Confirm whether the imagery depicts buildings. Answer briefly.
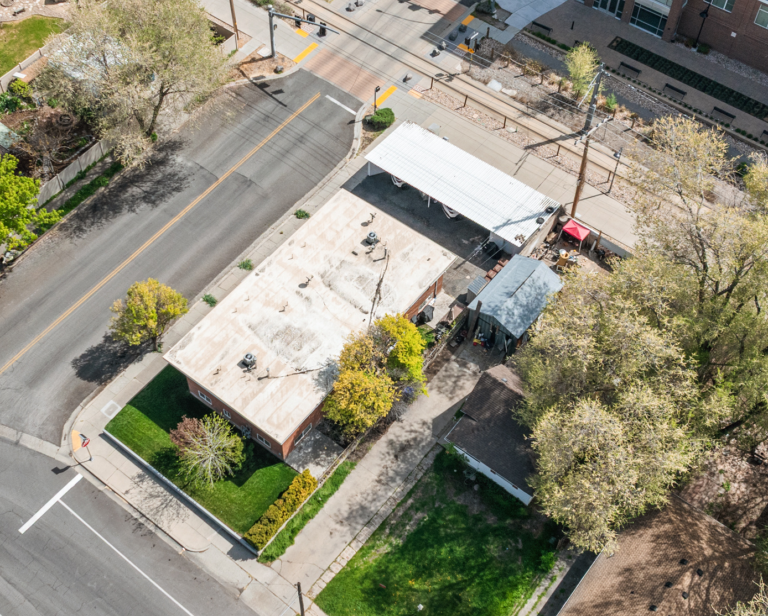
Yes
